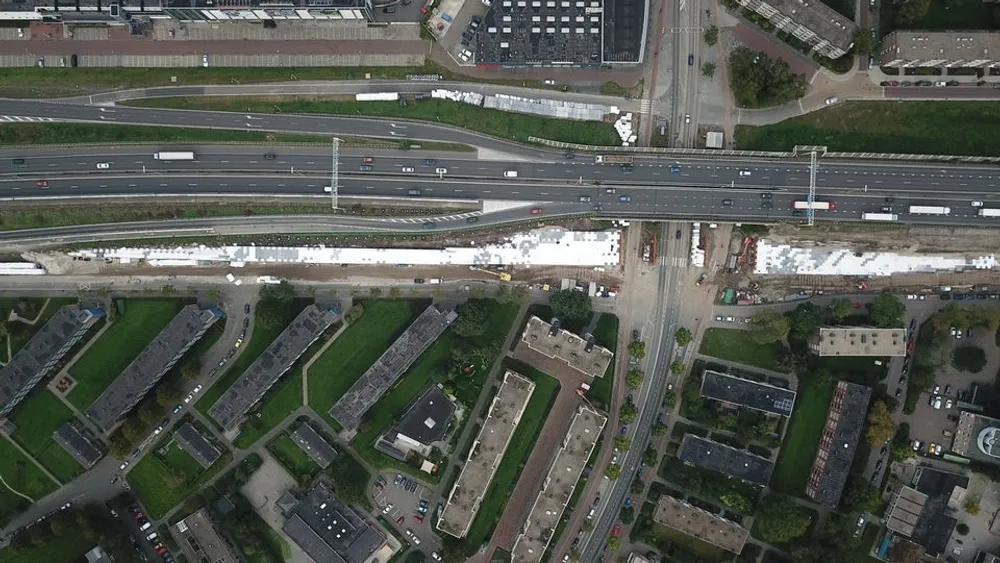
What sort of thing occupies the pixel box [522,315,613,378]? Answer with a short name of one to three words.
building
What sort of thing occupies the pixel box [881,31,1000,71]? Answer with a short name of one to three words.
building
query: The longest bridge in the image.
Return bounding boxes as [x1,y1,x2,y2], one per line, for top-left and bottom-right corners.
[591,146,770,227]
